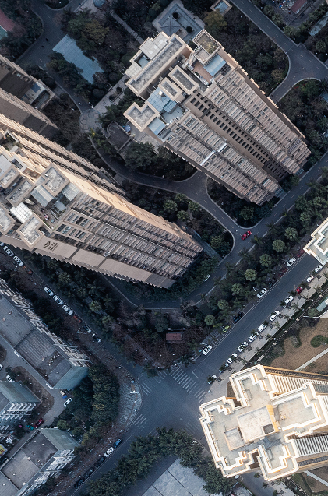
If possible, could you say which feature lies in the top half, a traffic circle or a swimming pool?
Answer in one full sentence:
The one visible in the top half is a swimming pool.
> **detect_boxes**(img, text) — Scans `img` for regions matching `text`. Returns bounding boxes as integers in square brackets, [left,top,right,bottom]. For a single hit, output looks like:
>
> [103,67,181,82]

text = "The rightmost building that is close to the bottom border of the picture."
[199,363,328,482]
